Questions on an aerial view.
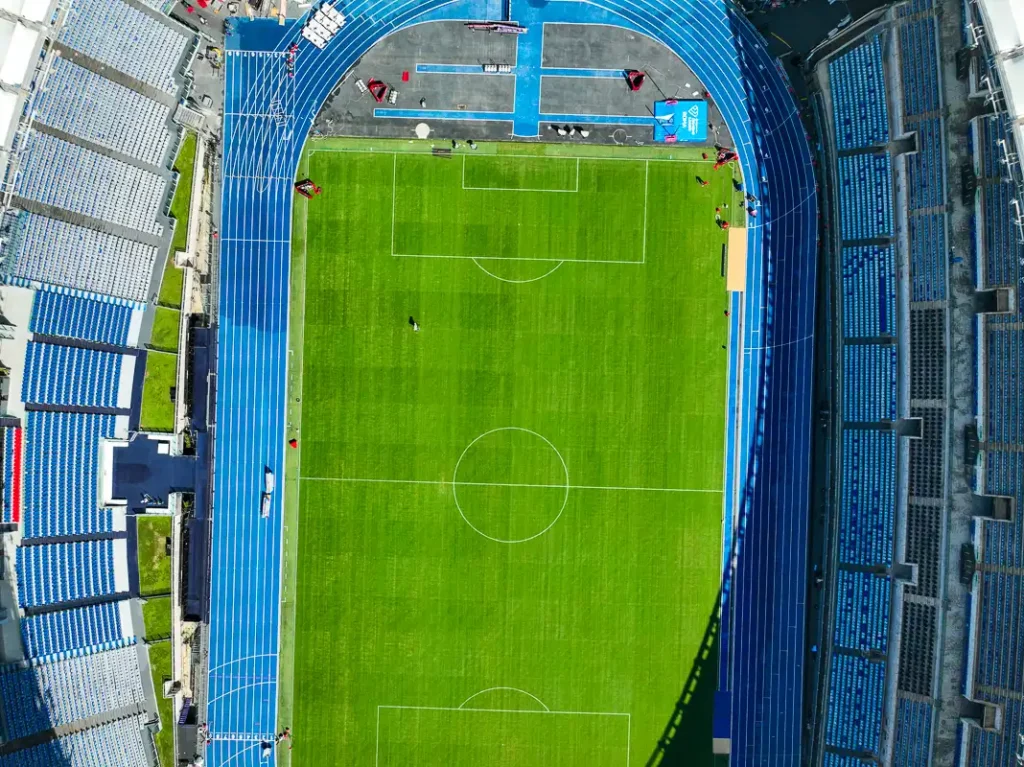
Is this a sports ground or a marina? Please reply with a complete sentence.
It's a sports ground.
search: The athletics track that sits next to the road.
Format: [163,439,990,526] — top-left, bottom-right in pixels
[204,0,817,767]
